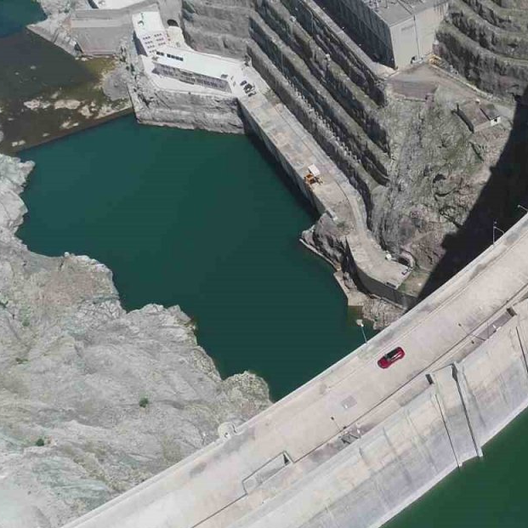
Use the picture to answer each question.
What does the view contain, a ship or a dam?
dam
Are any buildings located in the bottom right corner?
No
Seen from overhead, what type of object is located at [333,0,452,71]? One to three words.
building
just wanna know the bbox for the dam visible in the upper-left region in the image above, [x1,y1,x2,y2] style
[17,112,130,156]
